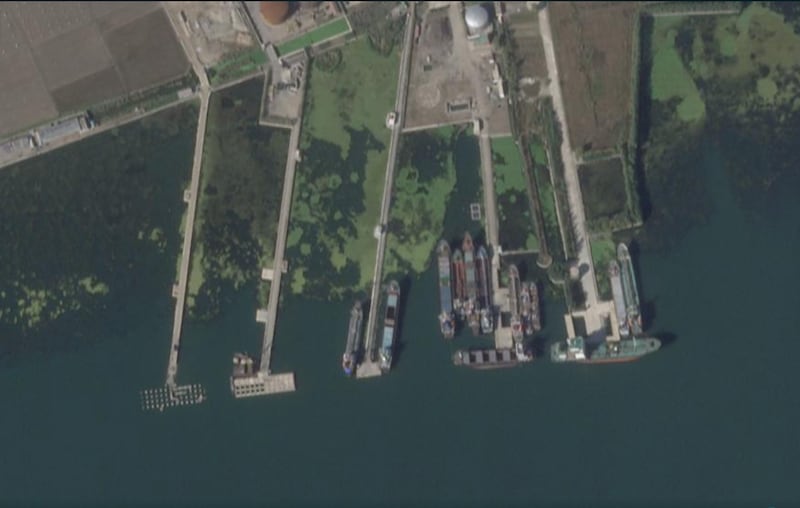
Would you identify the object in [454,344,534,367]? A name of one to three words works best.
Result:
ship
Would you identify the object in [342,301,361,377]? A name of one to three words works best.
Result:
ship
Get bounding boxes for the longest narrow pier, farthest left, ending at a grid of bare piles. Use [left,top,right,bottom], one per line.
[168,90,209,386]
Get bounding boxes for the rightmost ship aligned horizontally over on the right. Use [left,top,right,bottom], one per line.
[549,332,662,361]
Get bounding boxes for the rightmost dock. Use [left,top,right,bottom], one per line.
[565,300,619,338]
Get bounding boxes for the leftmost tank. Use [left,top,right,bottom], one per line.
[259,0,290,28]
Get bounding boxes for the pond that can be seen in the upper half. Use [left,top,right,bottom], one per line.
[579,157,628,221]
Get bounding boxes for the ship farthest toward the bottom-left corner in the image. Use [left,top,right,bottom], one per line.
[234,351,253,377]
